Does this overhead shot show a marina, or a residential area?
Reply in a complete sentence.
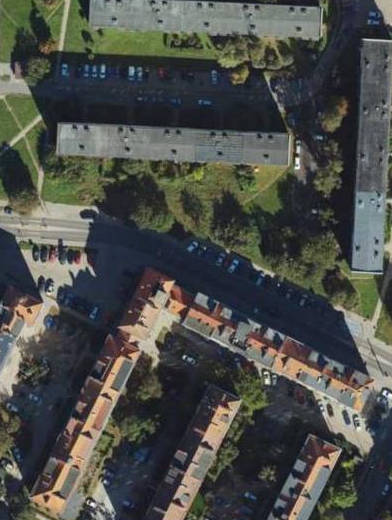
The area seen from above is a residential area.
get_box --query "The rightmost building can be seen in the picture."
[351,40,392,274]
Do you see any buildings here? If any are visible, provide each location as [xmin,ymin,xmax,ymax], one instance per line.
[90,0,322,44]
[179,293,374,412]
[351,40,392,274]
[145,385,243,520]
[57,123,291,169]
[28,337,139,516]
[0,289,38,388]
[268,434,342,520]
[110,272,175,351]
